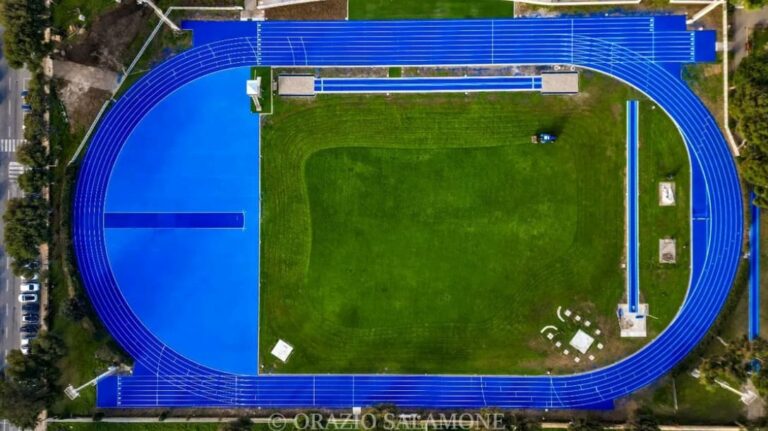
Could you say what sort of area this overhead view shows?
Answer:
sports ground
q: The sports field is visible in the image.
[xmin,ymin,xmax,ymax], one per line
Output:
[251,63,691,375]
